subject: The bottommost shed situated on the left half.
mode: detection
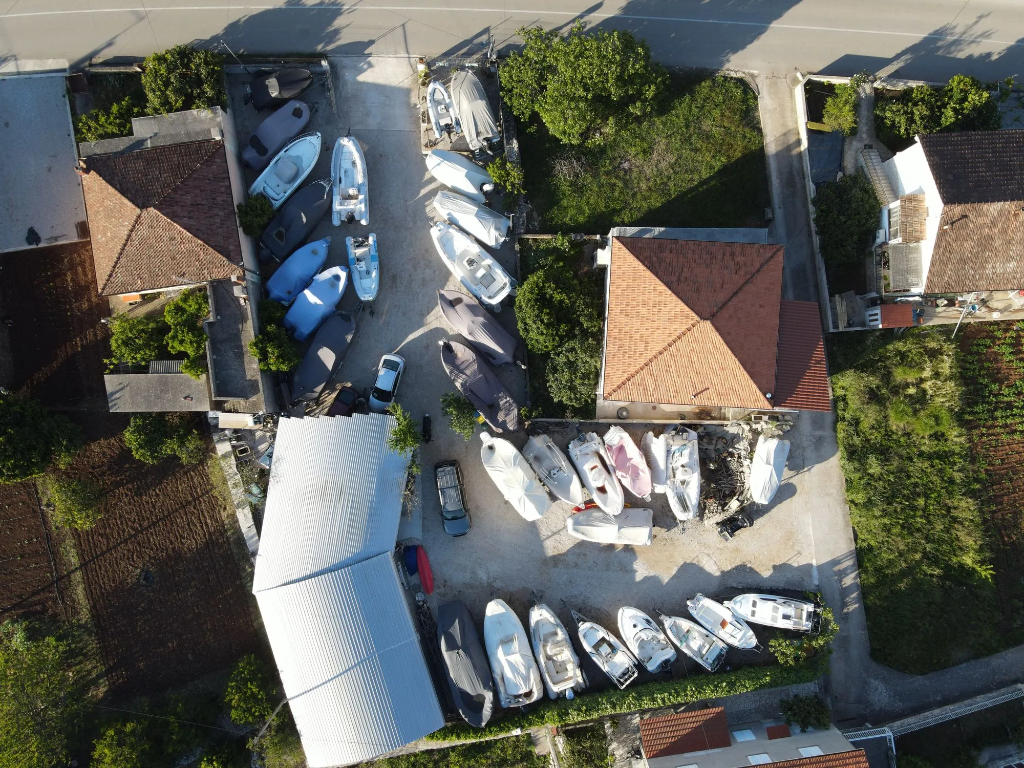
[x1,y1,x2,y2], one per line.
[254,413,446,768]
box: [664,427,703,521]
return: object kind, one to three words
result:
boat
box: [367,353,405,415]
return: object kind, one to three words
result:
car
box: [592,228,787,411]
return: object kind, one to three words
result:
house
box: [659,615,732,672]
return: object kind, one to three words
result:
boat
